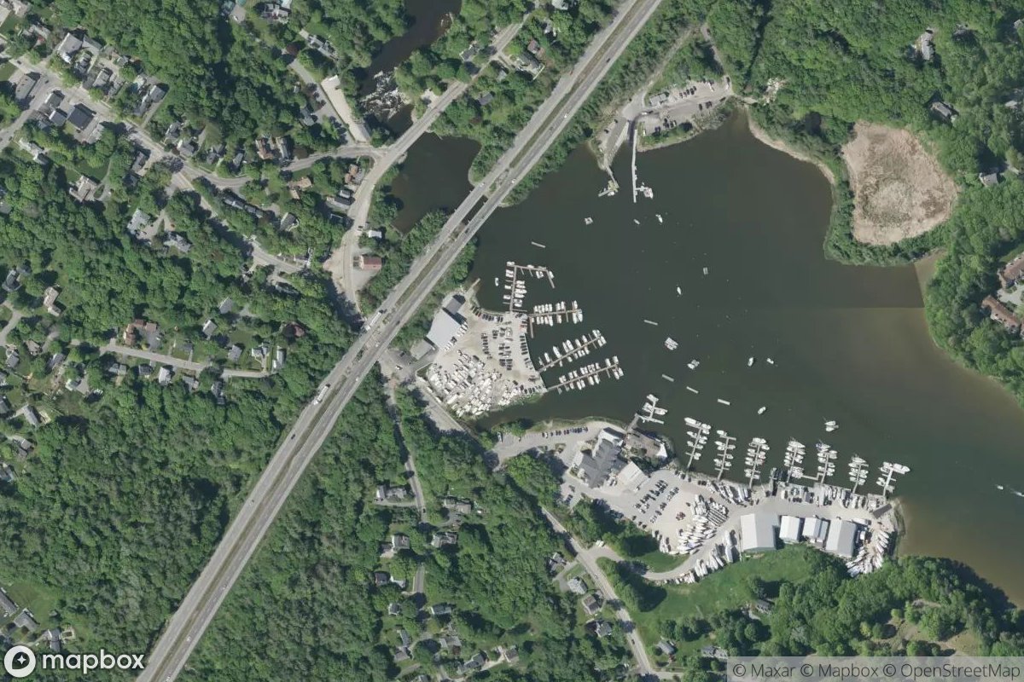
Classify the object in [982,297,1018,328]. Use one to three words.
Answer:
house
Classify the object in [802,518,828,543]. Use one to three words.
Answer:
shed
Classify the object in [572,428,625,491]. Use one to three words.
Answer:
building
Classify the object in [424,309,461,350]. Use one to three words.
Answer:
shed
